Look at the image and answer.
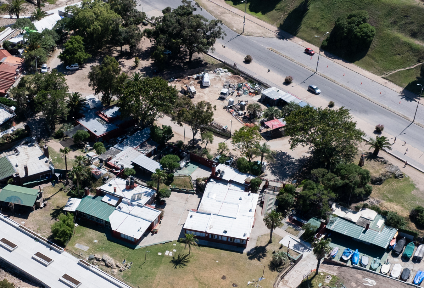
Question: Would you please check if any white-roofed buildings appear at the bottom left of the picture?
Yes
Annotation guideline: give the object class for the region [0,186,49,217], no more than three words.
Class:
building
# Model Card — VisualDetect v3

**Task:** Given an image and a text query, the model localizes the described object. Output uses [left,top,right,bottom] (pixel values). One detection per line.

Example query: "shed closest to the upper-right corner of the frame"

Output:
[261,86,303,108]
